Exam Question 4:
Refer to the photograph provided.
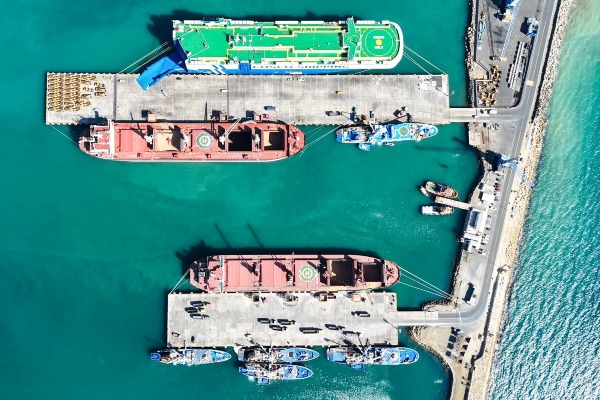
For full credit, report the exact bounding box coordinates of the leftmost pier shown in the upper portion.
[46,72,449,125]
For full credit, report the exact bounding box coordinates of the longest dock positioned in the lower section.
[168,292,397,348]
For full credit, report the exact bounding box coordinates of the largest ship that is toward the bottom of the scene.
[190,253,401,292]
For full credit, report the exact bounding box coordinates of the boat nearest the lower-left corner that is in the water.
[153,347,231,368]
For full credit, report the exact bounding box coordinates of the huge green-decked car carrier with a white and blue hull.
[136,16,404,91]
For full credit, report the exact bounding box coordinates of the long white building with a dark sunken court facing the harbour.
[460,207,488,237]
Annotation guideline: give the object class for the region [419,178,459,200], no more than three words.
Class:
boat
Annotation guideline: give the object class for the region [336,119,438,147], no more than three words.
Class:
boat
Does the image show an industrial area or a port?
port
